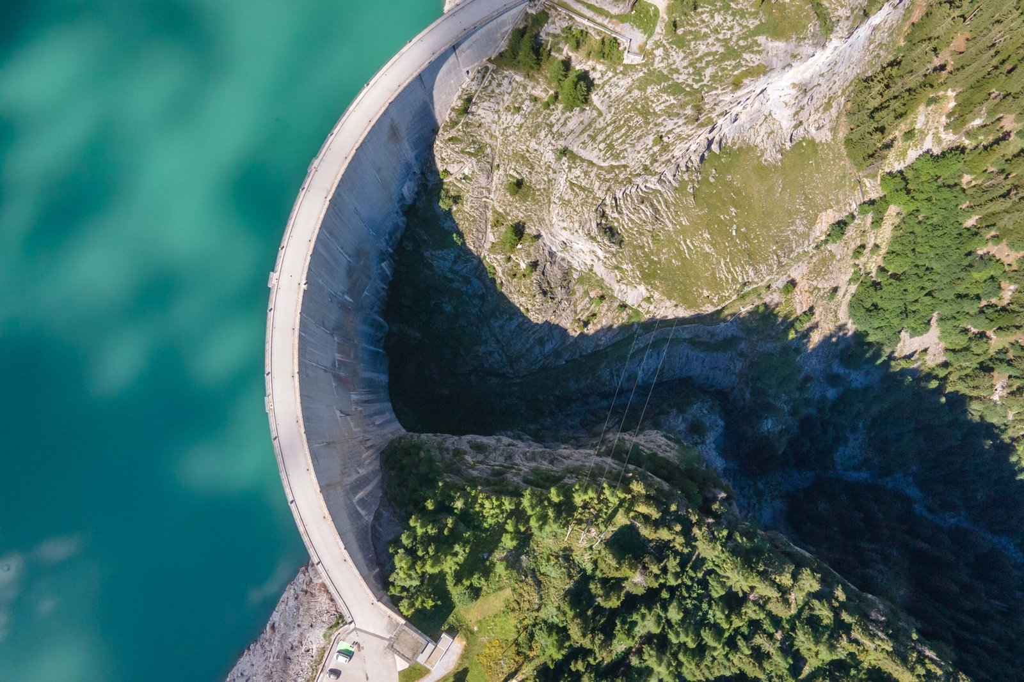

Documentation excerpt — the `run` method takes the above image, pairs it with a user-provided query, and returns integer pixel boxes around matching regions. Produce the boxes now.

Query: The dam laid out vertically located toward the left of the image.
[262,0,532,623]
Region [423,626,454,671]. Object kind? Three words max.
building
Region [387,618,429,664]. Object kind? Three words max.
building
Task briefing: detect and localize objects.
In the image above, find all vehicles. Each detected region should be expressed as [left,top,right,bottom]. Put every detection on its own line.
[333,653,350,667]
[325,670,340,682]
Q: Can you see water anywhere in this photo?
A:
Yes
